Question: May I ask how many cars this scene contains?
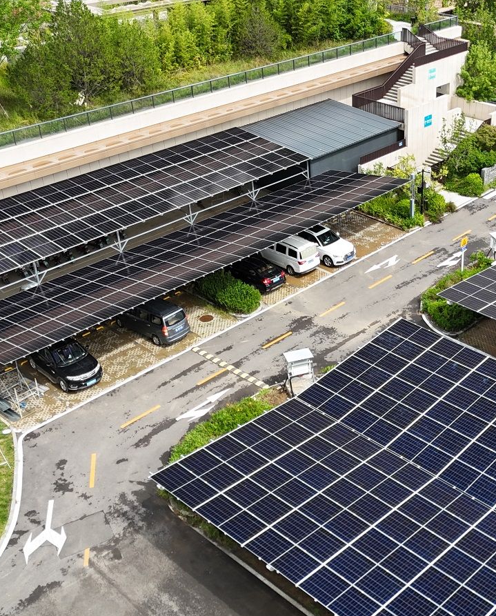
five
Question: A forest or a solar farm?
solar farm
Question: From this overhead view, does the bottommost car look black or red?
black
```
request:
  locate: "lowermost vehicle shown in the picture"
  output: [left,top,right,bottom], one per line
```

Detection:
[26,335,106,391]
